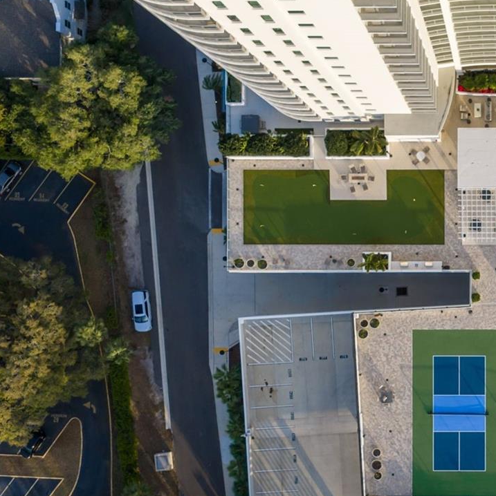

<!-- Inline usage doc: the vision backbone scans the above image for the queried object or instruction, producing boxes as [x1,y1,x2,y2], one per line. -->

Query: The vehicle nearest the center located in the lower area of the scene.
[132,291,152,331]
